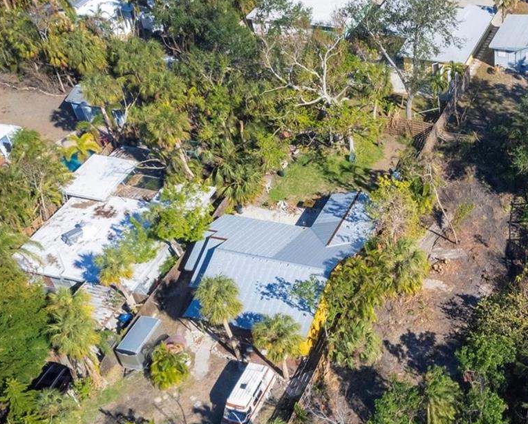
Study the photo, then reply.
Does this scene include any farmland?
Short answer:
No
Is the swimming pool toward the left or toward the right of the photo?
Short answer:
left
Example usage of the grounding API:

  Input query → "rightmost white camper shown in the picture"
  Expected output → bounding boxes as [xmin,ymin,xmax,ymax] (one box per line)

[216,355,273,424]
